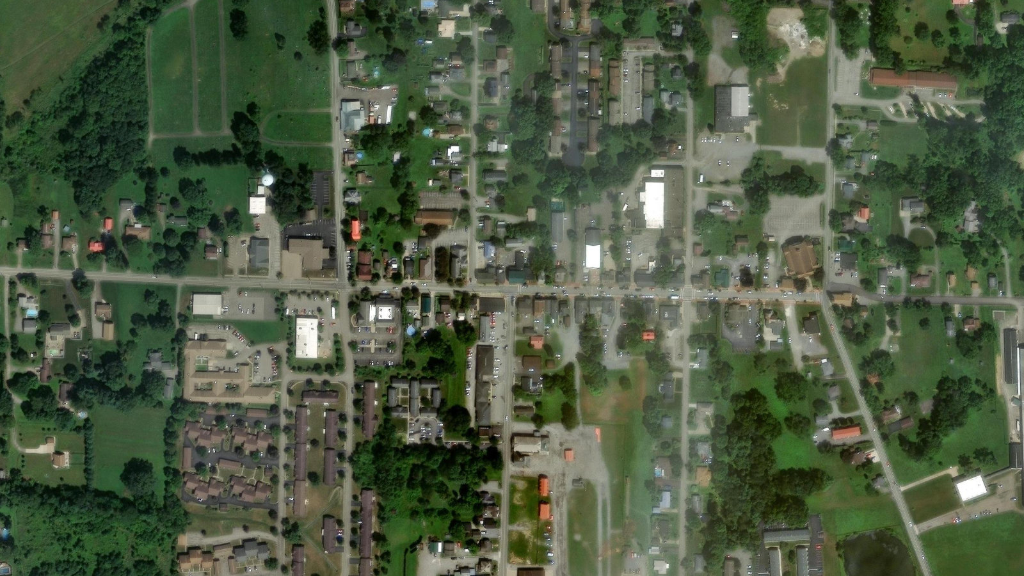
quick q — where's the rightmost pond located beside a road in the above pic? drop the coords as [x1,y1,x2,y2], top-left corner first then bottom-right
[839,529,919,576]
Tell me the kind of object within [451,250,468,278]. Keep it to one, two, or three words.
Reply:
building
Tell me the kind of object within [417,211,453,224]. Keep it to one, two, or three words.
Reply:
building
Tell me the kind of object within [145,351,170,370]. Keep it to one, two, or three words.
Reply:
house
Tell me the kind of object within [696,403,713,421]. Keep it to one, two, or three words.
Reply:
house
